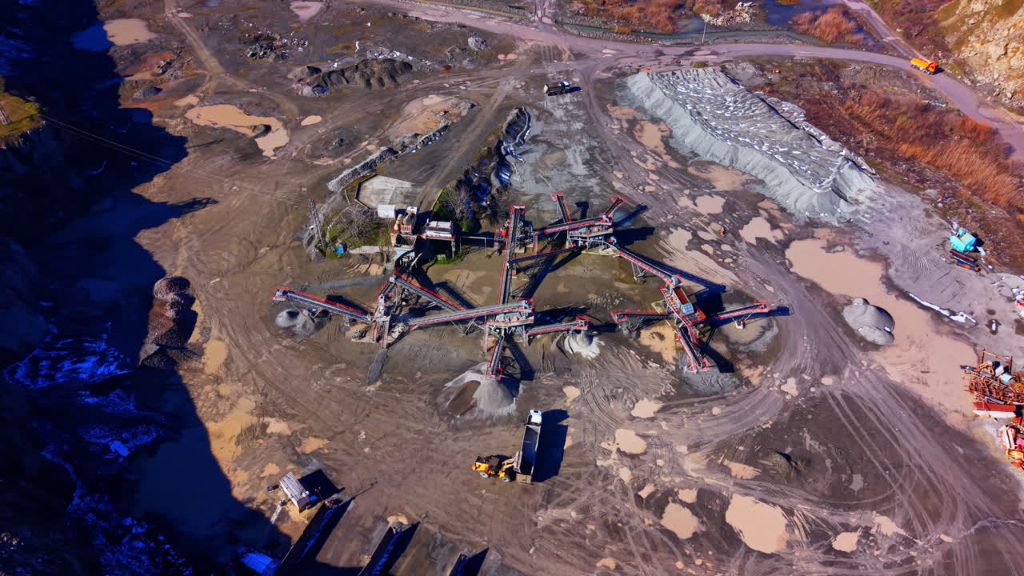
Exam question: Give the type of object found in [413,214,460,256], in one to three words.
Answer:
building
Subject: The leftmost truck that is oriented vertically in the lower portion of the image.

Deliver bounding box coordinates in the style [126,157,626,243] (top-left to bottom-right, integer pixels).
[515,411,543,482]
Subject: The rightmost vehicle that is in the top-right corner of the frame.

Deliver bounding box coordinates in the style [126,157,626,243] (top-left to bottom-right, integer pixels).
[911,56,940,77]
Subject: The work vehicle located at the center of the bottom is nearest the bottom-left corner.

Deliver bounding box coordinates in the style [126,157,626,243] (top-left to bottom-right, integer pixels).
[470,456,524,483]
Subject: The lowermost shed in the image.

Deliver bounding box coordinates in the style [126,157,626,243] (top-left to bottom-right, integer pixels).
[238,544,281,576]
